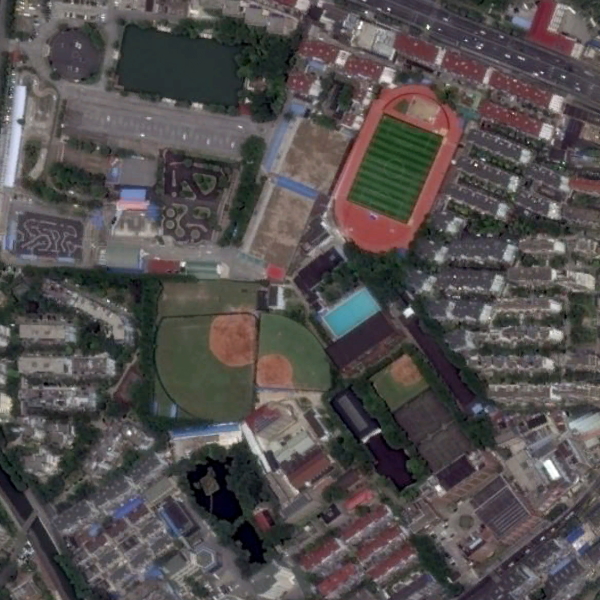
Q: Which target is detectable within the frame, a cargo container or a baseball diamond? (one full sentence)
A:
I can see a baseball diamond in this picture.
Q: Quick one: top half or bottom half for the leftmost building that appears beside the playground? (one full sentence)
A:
The top half of the photo is where the leftmost building that appears beside the playground is.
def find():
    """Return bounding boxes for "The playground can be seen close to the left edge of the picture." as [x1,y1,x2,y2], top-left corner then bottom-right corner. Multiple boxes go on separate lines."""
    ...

[17,211,83,264]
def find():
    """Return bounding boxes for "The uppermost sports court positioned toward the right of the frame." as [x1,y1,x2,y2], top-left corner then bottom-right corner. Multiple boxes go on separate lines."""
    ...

[393,380,455,441]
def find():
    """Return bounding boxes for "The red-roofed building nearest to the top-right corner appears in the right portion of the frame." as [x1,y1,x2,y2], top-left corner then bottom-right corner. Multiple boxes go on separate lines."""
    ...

[528,0,582,60]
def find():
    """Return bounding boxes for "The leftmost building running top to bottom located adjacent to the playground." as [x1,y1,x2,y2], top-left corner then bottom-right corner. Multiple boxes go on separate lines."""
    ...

[4,86,29,188]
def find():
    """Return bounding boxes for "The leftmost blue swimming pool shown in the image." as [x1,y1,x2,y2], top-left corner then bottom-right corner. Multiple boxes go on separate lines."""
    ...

[316,282,388,343]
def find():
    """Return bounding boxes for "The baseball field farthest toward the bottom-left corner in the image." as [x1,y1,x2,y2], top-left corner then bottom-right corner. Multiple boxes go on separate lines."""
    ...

[154,313,257,421]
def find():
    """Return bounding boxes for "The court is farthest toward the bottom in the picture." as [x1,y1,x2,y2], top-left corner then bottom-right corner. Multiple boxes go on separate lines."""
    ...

[420,421,472,473]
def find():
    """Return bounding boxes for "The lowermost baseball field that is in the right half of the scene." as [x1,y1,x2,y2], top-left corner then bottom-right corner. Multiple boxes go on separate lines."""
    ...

[371,355,430,411]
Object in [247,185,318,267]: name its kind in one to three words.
sports field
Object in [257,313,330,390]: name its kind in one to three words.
baseball field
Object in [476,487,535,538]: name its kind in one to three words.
shed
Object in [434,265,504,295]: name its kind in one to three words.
building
